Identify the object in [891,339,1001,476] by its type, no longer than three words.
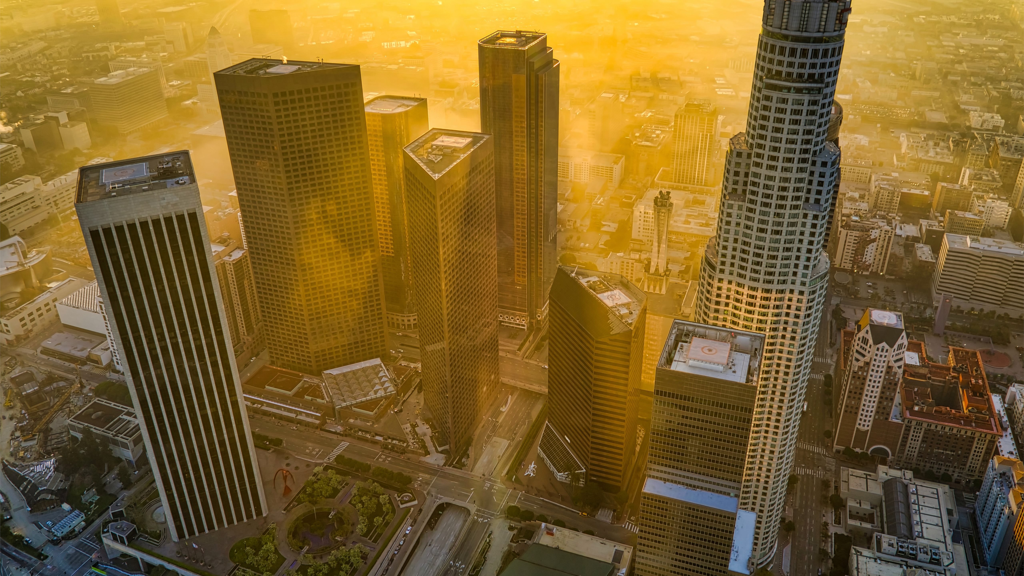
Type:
building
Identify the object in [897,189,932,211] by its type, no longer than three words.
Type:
building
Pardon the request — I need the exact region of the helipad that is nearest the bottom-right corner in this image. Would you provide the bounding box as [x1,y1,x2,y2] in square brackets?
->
[905,351,919,365]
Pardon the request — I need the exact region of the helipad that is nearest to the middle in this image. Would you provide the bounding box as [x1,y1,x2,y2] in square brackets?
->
[596,289,632,309]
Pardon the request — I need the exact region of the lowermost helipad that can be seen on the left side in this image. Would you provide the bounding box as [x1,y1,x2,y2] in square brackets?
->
[103,163,146,183]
